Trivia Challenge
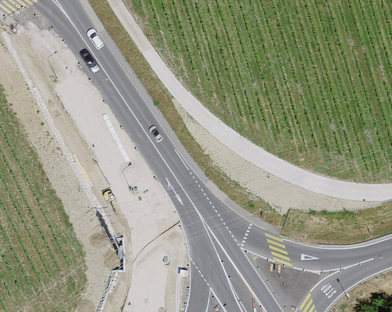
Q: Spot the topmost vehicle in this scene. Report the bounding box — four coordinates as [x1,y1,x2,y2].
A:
[86,27,104,51]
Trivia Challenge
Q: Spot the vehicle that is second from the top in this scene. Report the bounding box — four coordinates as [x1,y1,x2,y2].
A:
[79,48,98,72]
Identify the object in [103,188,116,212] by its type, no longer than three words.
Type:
vehicle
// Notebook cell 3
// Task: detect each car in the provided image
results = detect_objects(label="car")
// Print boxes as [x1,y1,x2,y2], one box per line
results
[79,48,98,72]
[148,124,163,144]
[86,27,104,51]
